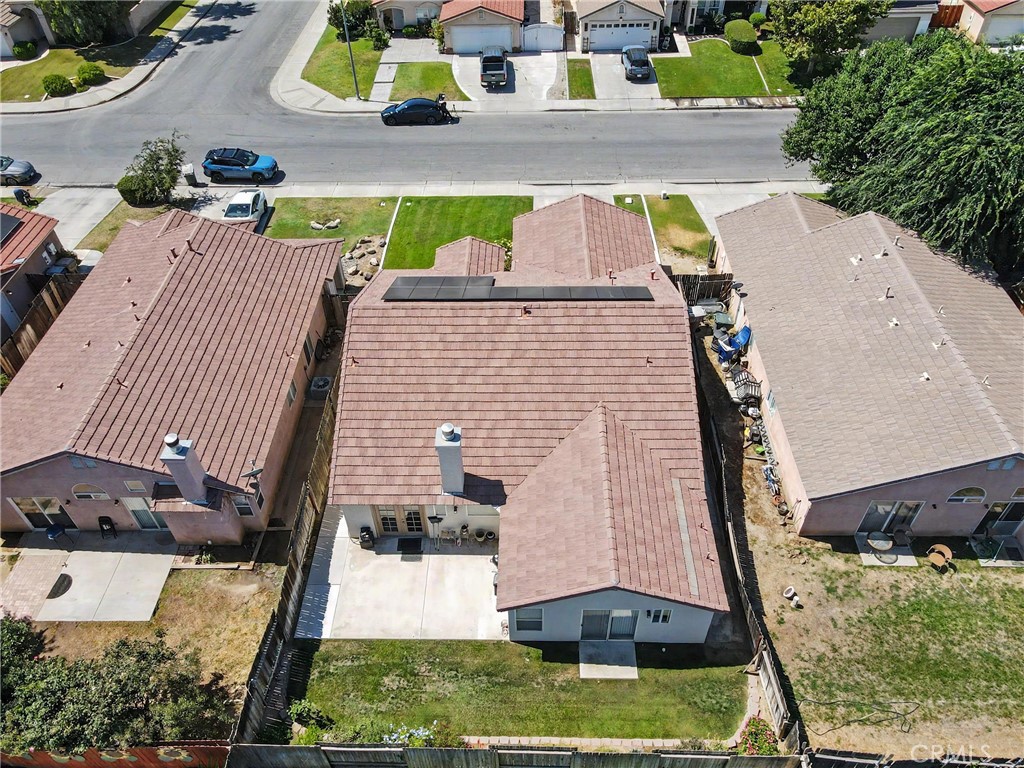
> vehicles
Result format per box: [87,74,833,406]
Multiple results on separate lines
[216,190,268,231]
[619,45,649,76]
[379,91,447,125]
[201,145,281,183]
[0,155,40,186]
[481,43,512,84]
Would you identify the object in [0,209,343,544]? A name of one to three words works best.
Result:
house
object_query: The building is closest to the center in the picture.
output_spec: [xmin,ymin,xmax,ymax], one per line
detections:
[329,196,731,643]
